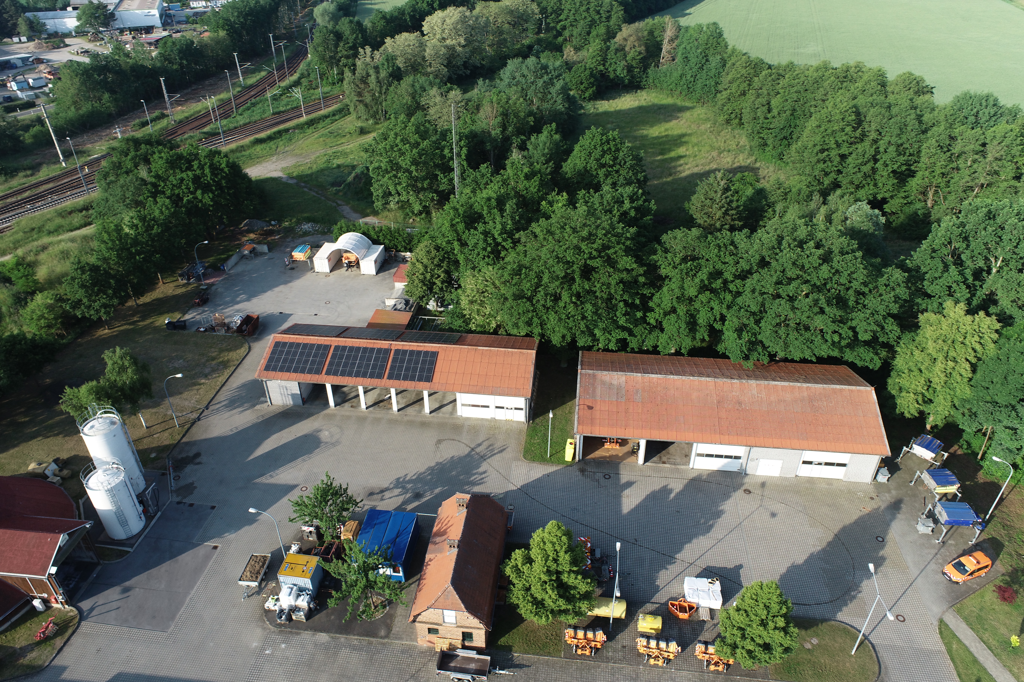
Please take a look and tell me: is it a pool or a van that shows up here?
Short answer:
van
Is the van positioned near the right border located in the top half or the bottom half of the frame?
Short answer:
bottom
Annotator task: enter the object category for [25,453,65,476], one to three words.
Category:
water tank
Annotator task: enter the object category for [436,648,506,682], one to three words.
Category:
trailer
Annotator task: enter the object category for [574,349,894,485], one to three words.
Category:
building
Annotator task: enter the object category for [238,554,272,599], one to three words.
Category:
trailer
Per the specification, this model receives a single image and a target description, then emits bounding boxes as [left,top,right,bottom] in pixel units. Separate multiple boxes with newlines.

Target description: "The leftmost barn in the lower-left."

[0,473,103,630]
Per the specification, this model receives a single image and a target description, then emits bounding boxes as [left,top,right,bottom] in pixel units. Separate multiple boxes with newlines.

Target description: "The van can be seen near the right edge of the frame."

[945,545,997,586]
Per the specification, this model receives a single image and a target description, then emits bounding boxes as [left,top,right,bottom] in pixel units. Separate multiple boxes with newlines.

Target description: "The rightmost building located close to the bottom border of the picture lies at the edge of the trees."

[407,491,511,652]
